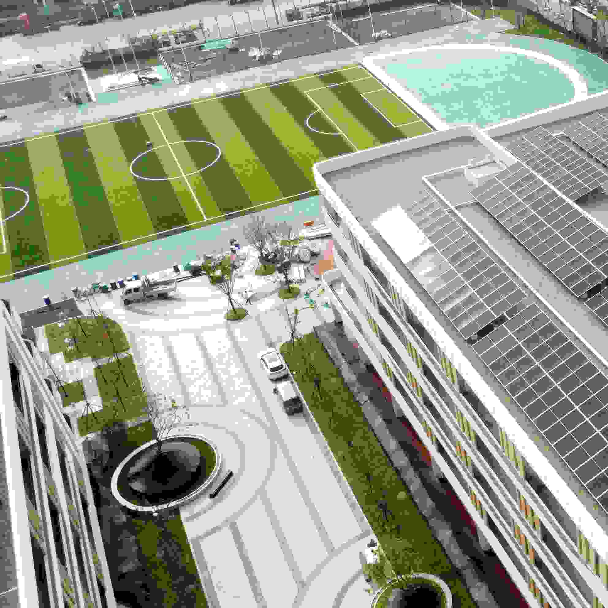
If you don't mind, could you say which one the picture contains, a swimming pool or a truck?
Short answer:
truck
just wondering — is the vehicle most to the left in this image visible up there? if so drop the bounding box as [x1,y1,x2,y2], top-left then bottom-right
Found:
[117,268,177,303]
